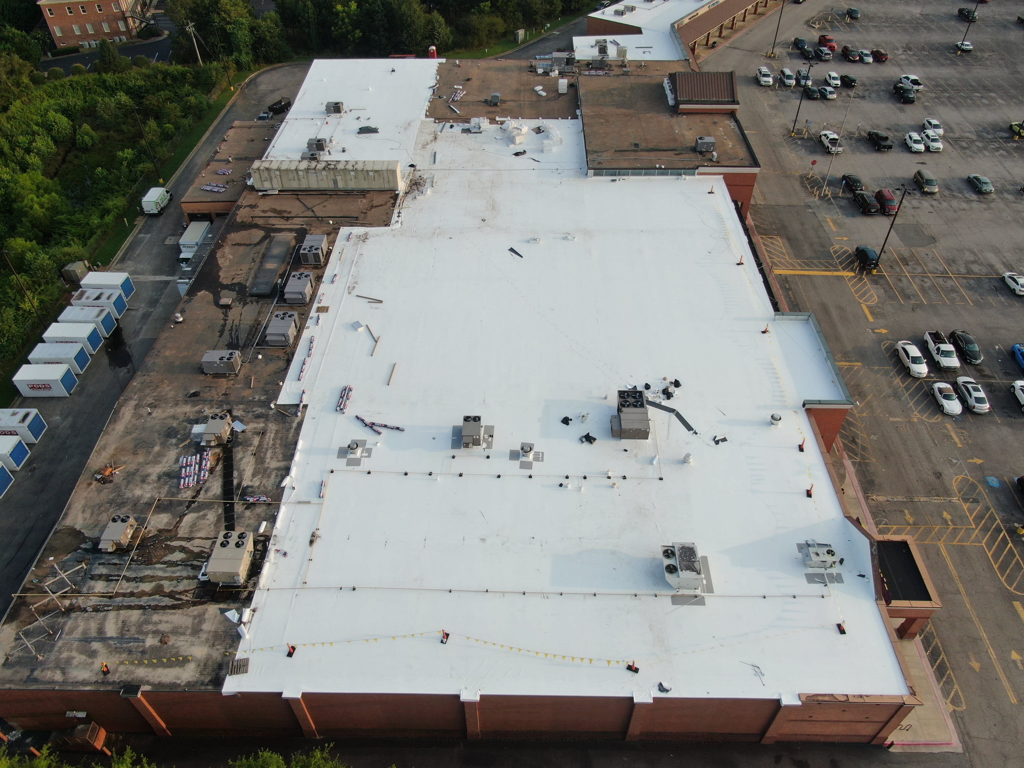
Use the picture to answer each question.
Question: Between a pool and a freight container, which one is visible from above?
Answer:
freight container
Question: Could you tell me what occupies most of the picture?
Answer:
buildings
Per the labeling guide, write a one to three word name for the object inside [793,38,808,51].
vehicle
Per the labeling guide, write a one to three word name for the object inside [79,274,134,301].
shipping container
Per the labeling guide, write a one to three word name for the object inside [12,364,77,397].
shipping container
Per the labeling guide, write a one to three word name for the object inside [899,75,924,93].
vehicle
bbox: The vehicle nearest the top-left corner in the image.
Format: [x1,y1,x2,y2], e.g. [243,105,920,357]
[142,183,174,213]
